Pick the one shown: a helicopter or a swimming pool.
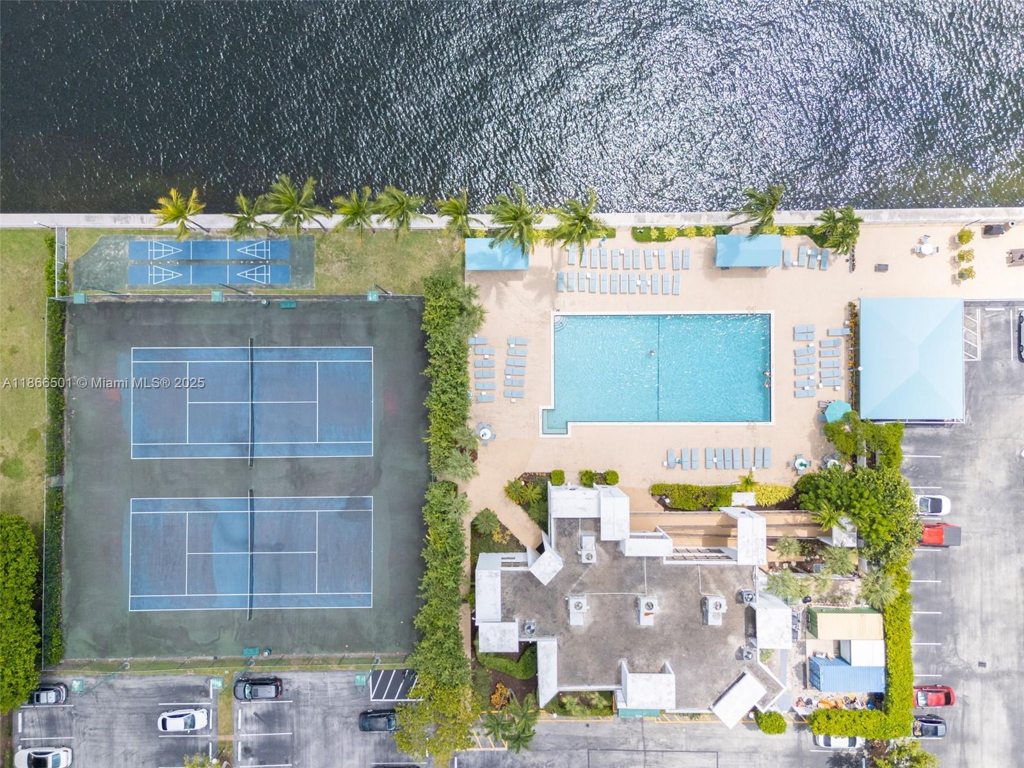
swimming pool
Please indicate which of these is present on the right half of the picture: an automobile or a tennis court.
automobile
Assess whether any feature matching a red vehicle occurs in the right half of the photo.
Yes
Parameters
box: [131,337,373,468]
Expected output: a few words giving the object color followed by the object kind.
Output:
blue tennis court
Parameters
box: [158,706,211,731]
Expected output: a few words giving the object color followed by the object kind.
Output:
white car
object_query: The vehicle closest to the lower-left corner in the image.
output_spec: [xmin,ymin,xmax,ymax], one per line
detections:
[20,745,74,768]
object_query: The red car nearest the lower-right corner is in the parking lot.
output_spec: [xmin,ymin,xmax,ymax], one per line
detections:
[910,683,955,707]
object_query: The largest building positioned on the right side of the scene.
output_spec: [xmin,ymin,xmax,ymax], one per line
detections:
[475,483,856,730]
